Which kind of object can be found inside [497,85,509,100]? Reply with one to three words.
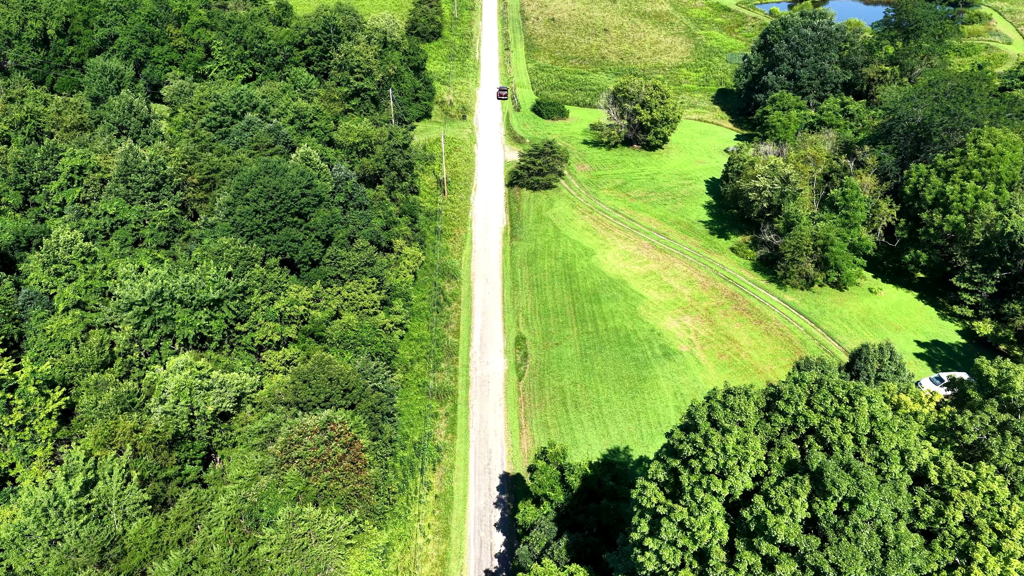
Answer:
vehicle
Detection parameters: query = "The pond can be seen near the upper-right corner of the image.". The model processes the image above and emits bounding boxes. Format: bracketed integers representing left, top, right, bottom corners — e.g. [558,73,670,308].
[750,0,975,36]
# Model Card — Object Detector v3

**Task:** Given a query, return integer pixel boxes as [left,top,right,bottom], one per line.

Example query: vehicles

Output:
[497,85,509,100]
[921,371,978,397]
